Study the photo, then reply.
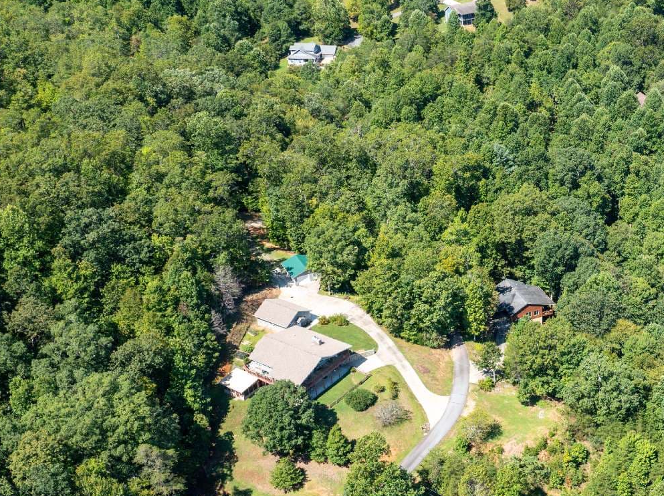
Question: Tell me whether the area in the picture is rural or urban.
rural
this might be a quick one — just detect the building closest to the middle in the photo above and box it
[281,254,321,289]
